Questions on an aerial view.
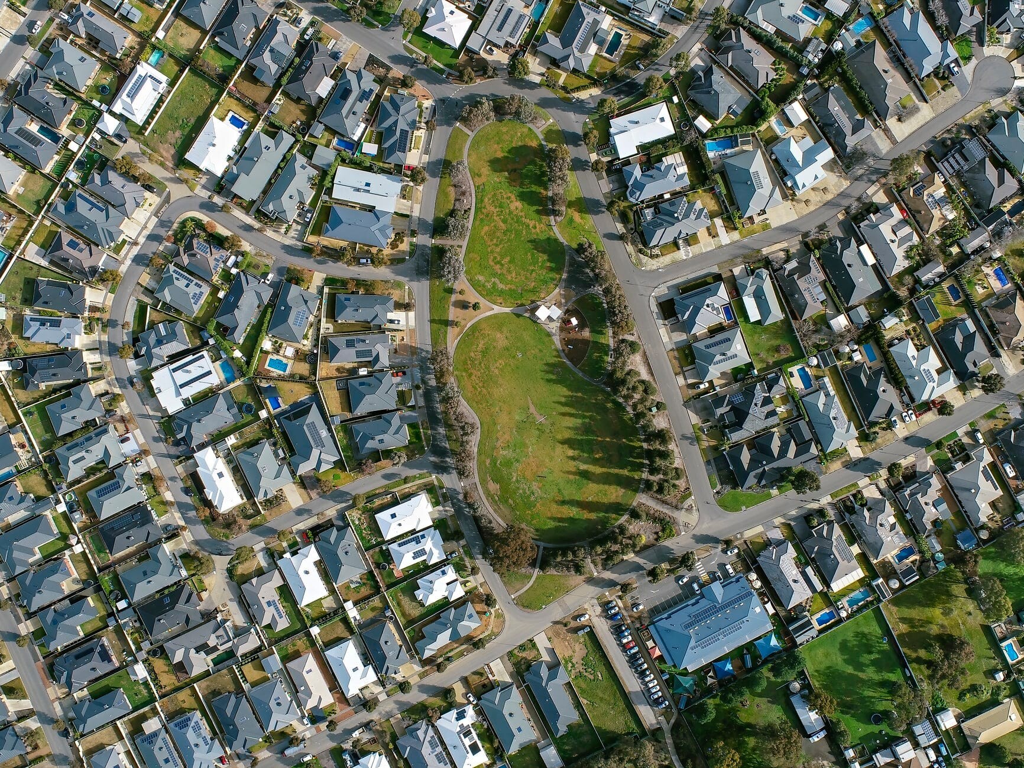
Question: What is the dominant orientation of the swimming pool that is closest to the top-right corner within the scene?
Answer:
at an angle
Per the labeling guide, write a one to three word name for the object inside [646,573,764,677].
building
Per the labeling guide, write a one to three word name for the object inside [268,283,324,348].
house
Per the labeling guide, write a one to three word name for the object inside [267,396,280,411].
swimming pool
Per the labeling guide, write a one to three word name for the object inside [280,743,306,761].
vehicle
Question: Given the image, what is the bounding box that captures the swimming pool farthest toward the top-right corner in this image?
[850,14,875,36]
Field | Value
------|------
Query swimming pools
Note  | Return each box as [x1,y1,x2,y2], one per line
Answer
[266,356,290,375]
[603,30,626,59]
[814,609,838,629]
[0,248,9,265]
[267,396,280,411]
[796,366,814,391]
[210,650,235,669]
[850,14,875,36]
[148,48,164,68]
[1003,641,1017,657]
[893,544,918,565]
[218,359,239,386]
[0,469,15,483]
[861,342,874,359]
[35,123,63,145]
[772,117,787,135]
[529,0,548,23]
[845,587,872,610]
[226,116,246,131]
[722,305,735,323]
[947,283,963,302]
[333,137,356,153]
[992,265,1010,288]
